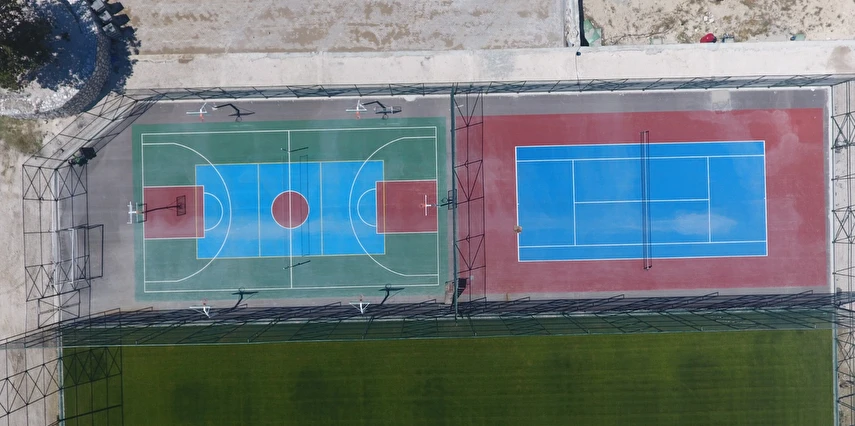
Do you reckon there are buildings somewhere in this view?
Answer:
No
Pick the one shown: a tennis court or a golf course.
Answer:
tennis court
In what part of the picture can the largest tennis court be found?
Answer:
right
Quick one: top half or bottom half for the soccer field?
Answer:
bottom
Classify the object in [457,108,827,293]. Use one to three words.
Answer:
tennis court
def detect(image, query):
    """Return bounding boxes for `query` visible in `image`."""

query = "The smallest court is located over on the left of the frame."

[195,160,386,259]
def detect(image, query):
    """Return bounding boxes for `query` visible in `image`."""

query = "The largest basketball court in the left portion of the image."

[132,117,448,302]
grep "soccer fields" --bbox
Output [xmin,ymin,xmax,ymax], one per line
[63,312,832,426]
